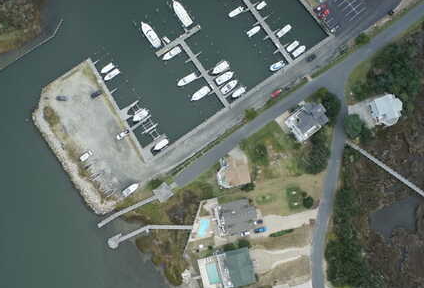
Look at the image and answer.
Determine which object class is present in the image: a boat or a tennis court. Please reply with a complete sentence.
It is a boat that can be seen here.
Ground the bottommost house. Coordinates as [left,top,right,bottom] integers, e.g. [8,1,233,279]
[214,247,257,288]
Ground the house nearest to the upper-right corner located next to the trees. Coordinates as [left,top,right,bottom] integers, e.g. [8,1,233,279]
[365,95,403,129]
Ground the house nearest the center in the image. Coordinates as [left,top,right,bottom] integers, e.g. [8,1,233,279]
[216,155,250,189]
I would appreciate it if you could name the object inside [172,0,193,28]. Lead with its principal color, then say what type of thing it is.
white boat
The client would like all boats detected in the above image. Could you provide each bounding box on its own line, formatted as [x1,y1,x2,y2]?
[172,0,193,28]
[256,0,267,9]
[231,85,247,98]
[275,25,291,39]
[287,39,300,52]
[209,61,231,76]
[177,72,198,85]
[270,60,286,70]
[141,21,161,49]
[214,72,235,86]
[191,85,212,100]
[246,26,261,38]
[104,68,121,80]
[162,46,182,59]
[220,80,238,95]
[228,6,246,17]
[101,62,115,73]
[132,107,150,122]
[291,46,306,58]
[152,137,170,150]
